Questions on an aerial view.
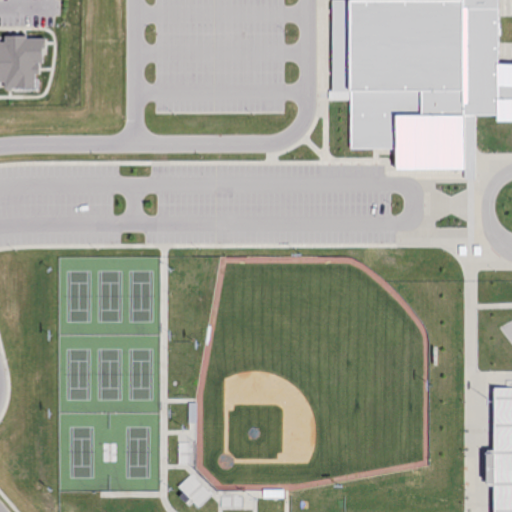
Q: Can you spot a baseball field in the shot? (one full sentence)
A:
Yes, the frame does contain a baseball field.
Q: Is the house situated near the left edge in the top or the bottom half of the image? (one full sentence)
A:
Seen from above, the house situated near the left edge lies in the top half of the view.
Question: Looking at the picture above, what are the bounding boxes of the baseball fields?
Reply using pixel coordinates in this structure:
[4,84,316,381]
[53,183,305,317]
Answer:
[196,257,429,490]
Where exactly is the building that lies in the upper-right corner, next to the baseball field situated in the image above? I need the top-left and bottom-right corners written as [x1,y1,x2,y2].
[329,0,512,172]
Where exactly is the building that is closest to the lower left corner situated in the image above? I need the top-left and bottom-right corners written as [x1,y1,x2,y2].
[177,474,212,508]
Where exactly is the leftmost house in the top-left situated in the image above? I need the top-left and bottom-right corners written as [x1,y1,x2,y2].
[0,37,45,92]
